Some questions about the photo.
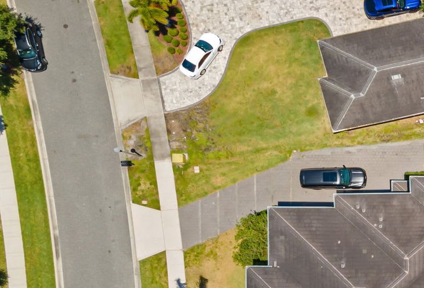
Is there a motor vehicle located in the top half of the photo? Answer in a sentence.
Yes, a motor vehicle shows up in the top half of the photo.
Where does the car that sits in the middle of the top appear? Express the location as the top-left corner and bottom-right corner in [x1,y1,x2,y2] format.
[179,32,225,83]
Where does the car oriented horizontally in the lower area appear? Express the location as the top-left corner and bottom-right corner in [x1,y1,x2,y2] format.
[298,164,366,193]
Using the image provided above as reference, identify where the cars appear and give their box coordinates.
[18,18,52,74]
[362,0,421,21]
[298,164,366,193]
[179,32,225,83]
